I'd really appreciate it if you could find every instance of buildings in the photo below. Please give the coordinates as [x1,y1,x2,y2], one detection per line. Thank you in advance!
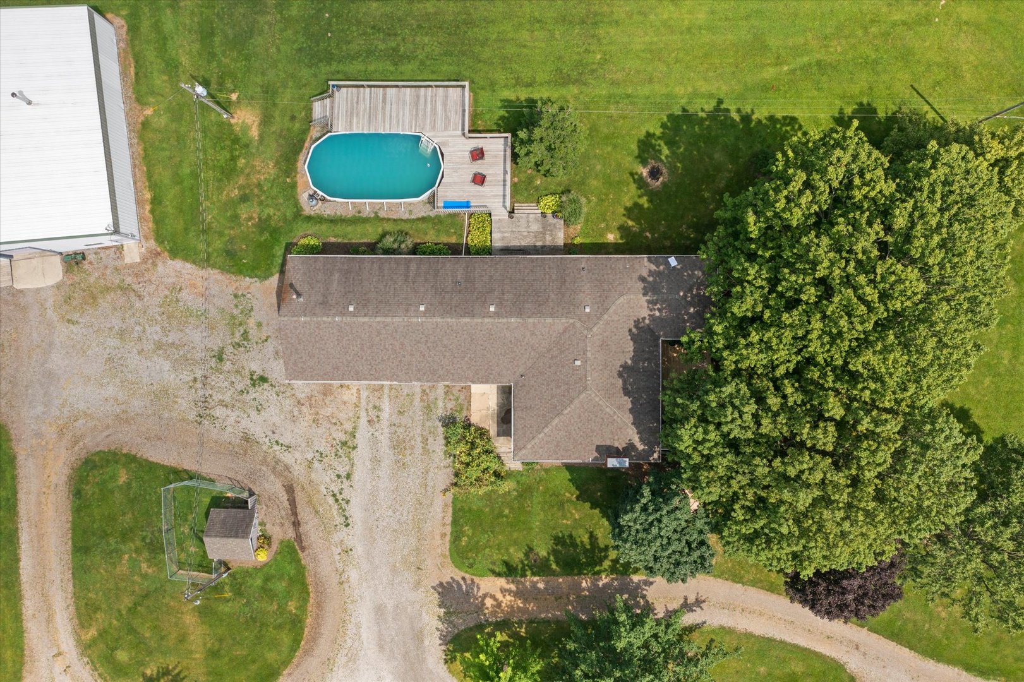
[203,503,261,560]
[0,0,141,259]
[280,254,719,469]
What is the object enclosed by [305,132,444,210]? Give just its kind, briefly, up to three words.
swimming pool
